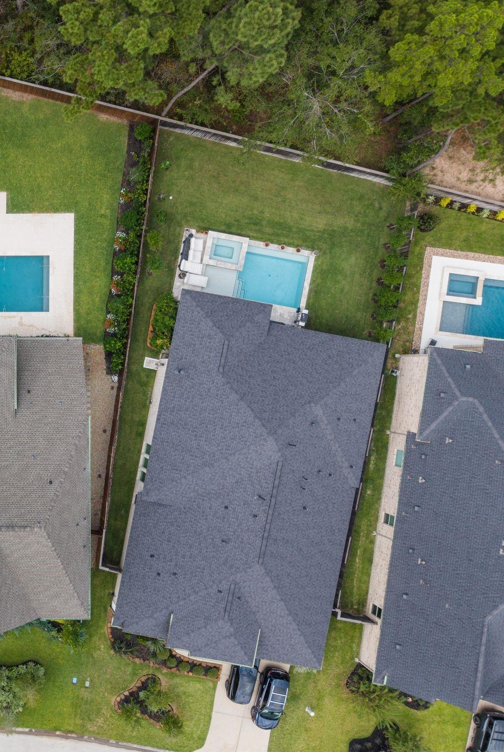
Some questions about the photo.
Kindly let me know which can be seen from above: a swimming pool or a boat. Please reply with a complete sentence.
Of the two, only a swimming pool appears.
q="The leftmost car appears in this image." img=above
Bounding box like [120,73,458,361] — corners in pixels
[221,660,261,712]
